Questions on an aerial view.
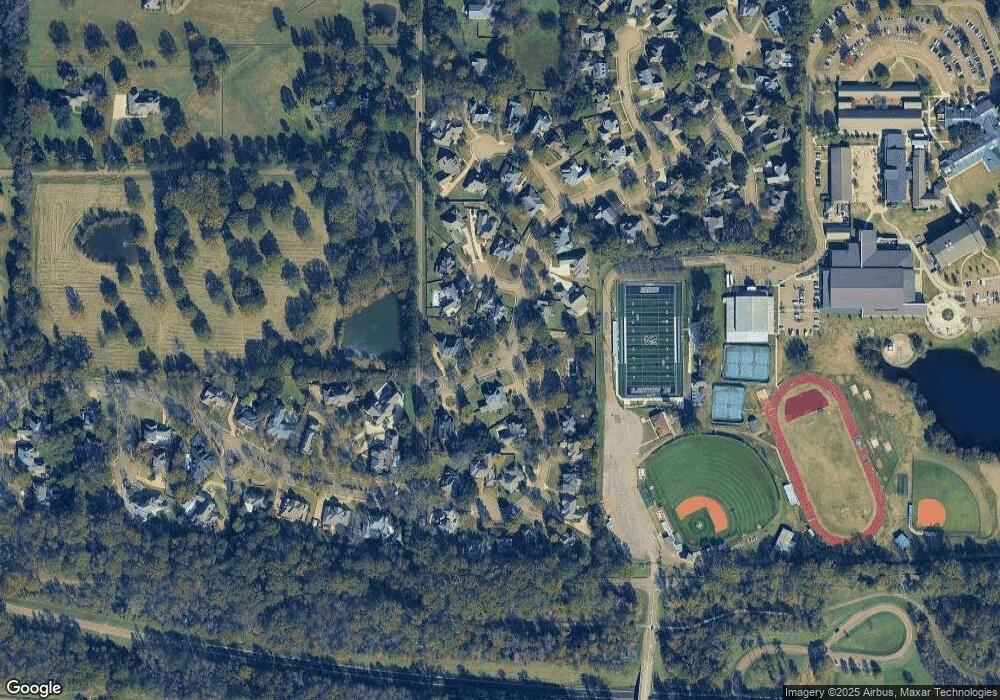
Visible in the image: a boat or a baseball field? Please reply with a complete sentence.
Of the two, only a baseball field appears.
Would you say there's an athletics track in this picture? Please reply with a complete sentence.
Yes, the picture does show an athletics track.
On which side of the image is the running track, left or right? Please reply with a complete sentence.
You can find the running track on the right side of the picture.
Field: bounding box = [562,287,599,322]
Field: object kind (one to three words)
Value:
house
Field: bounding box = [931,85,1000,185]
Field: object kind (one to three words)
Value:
building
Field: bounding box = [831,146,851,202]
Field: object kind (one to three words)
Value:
building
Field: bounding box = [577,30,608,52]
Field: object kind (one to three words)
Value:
house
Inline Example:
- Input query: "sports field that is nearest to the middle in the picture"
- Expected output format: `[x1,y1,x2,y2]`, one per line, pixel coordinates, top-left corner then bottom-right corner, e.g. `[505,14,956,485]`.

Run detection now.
[616,281,683,399]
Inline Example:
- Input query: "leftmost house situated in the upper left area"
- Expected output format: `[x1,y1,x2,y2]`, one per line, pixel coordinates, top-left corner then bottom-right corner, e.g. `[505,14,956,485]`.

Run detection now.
[61,90,90,110]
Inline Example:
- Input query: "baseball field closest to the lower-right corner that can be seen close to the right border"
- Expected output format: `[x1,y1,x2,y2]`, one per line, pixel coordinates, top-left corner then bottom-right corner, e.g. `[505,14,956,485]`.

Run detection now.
[913,461,979,533]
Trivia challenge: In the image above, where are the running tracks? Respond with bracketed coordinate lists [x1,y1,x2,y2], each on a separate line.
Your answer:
[766,373,887,546]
